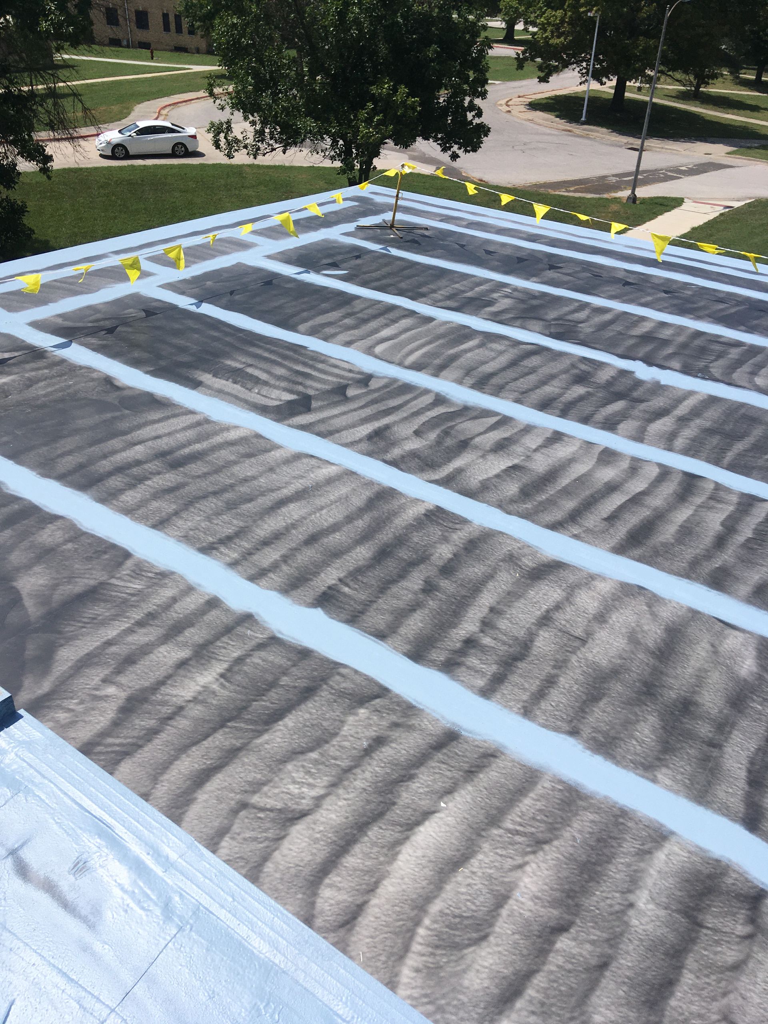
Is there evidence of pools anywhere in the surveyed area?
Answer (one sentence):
No, the photo shows no pool.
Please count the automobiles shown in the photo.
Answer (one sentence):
The picture shows just 1 automobile.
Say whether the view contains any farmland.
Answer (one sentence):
No, no farmland is visible.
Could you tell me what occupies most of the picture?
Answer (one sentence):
The largest share of the image is taken up by buildings.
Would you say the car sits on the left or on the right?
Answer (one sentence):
The car appears in the left half of the scene.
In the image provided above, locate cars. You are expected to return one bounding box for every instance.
[87,115,199,156]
